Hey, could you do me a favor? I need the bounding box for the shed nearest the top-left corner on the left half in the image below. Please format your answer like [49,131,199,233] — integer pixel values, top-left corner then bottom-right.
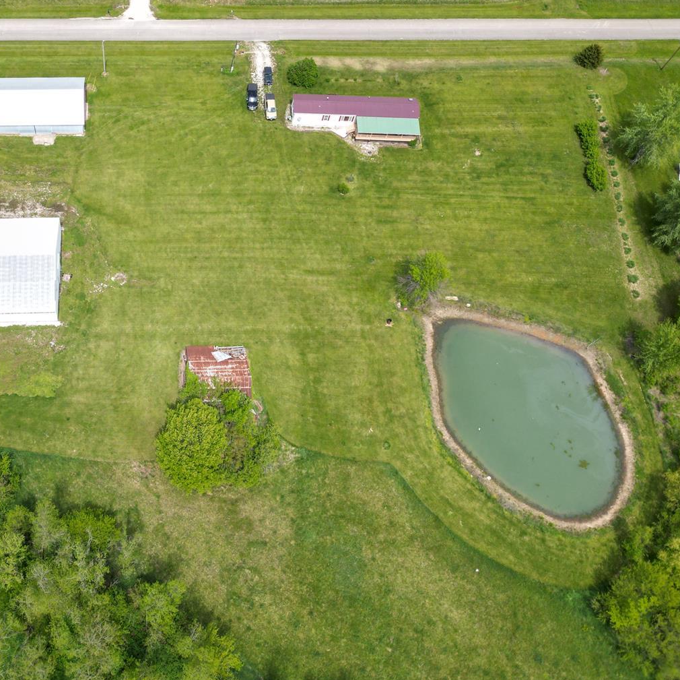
[0,79,89,137]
